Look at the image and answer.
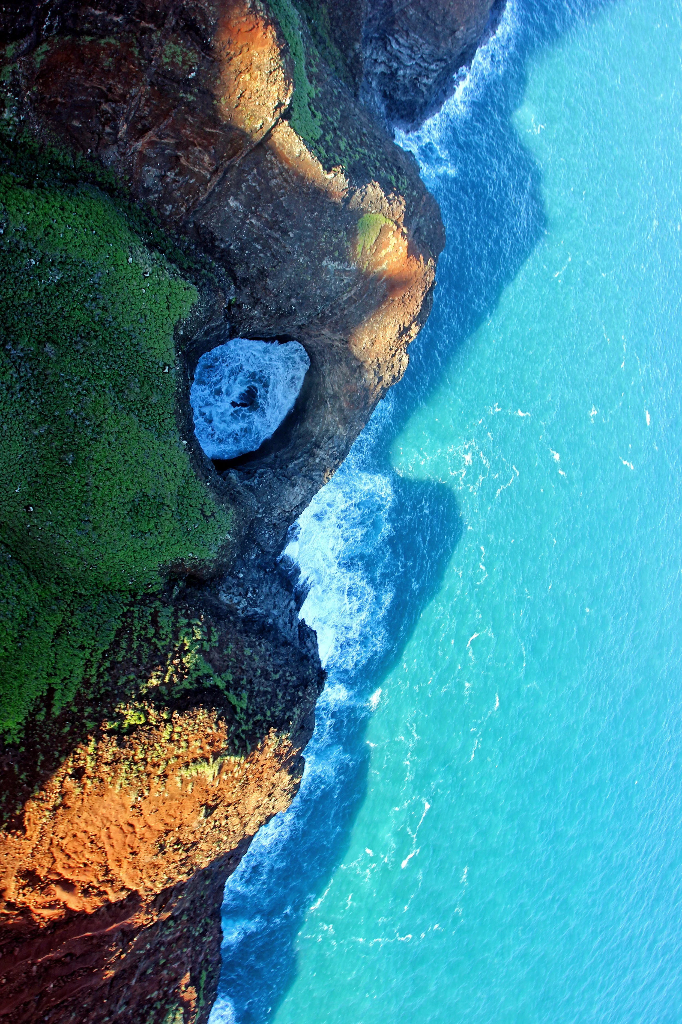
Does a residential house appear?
No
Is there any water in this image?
Yes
